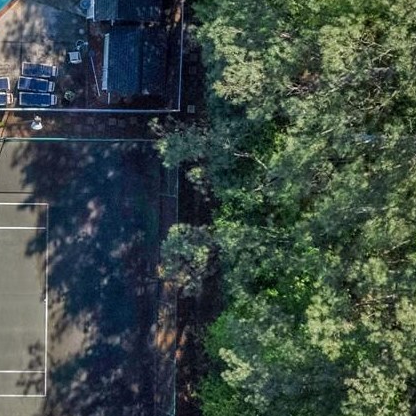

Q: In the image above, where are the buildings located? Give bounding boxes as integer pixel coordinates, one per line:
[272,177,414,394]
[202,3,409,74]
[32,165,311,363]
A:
[86,0,158,26]
[102,31,165,101]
